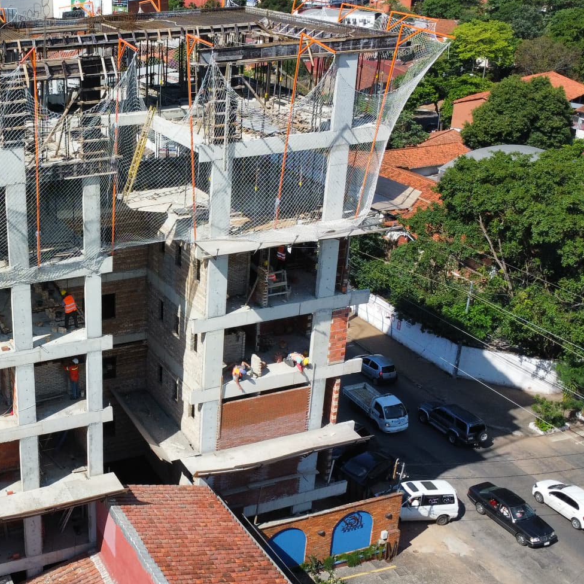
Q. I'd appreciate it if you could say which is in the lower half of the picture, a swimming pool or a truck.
truck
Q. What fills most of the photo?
buildings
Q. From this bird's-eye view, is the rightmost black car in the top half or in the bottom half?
bottom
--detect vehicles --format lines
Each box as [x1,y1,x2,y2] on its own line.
[388,476,457,524]
[342,378,413,431]
[333,444,381,491]
[357,352,401,385]
[469,487,564,553]
[534,481,584,533]
[419,402,489,448]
